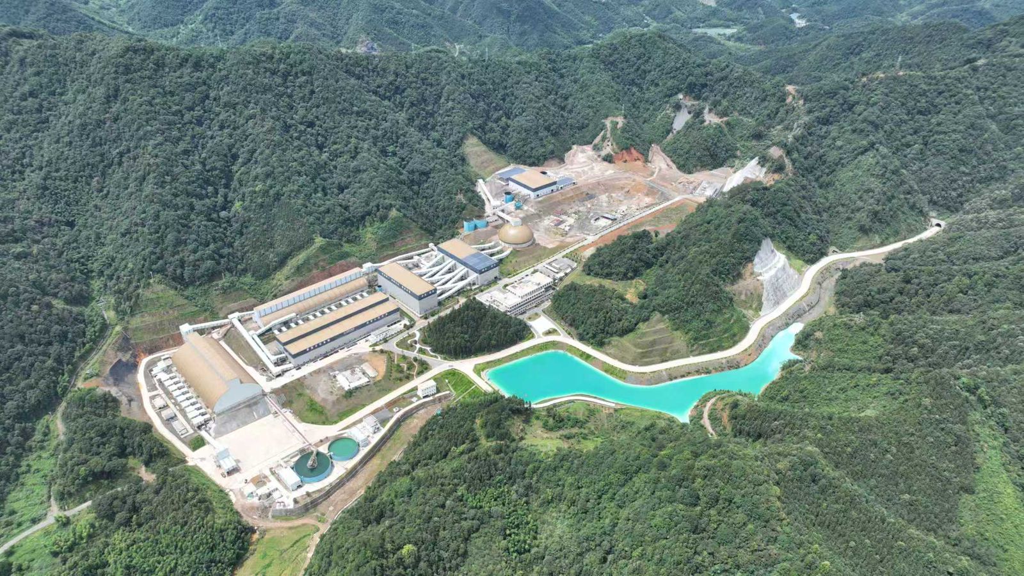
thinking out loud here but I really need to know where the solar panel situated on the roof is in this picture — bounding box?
[461,251,497,272]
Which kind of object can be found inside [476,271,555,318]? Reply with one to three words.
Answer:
building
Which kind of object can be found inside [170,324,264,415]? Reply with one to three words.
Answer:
shed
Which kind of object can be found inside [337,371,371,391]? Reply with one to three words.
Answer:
building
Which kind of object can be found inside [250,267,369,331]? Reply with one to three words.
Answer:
shed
